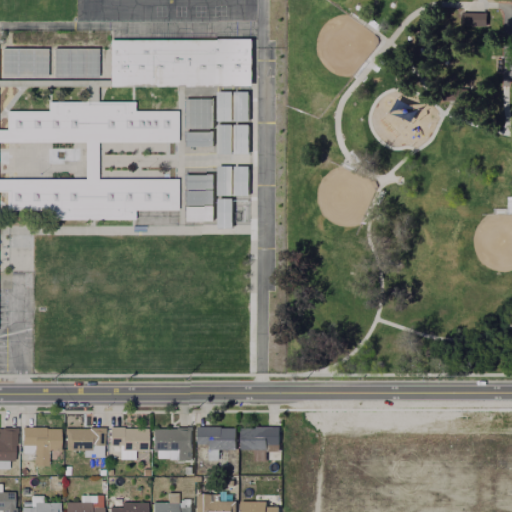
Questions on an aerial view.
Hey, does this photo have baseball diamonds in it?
Yes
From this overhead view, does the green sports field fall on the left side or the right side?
left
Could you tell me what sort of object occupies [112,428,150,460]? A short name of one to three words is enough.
house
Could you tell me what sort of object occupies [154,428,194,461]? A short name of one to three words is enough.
house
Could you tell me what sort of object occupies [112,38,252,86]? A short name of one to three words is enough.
building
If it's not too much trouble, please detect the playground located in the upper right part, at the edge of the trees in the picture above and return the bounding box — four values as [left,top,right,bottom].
[368,88,444,150]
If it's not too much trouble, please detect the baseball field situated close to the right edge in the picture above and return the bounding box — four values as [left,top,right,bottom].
[476,212,512,274]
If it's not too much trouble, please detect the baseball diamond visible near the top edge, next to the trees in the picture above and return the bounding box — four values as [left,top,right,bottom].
[316,14,382,76]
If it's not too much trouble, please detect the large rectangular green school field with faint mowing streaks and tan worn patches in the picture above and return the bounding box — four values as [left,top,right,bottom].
[34,236,251,374]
